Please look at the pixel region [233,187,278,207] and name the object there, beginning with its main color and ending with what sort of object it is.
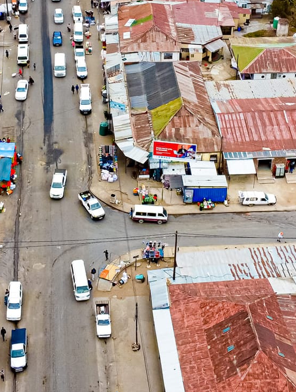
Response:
white vehicle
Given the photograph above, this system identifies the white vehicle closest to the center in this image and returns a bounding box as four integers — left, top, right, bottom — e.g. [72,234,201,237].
[129,203,169,224]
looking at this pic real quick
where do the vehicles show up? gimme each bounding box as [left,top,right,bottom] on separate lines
[78,79,93,110]
[71,5,84,22]
[79,191,104,220]
[233,187,278,207]
[17,47,29,64]
[73,20,85,42]
[53,9,65,24]
[74,43,87,62]
[53,52,66,75]
[75,59,89,79]
[129,203,169,224]
[5,282,24,319]
[49,170,67,200]
[70,258,92,299]
[14,80,29,99]
[18,0,28,10]
[94,303,113,339]
[7,330,28,372]
[17,26,29,42]
[51,31,64,46]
